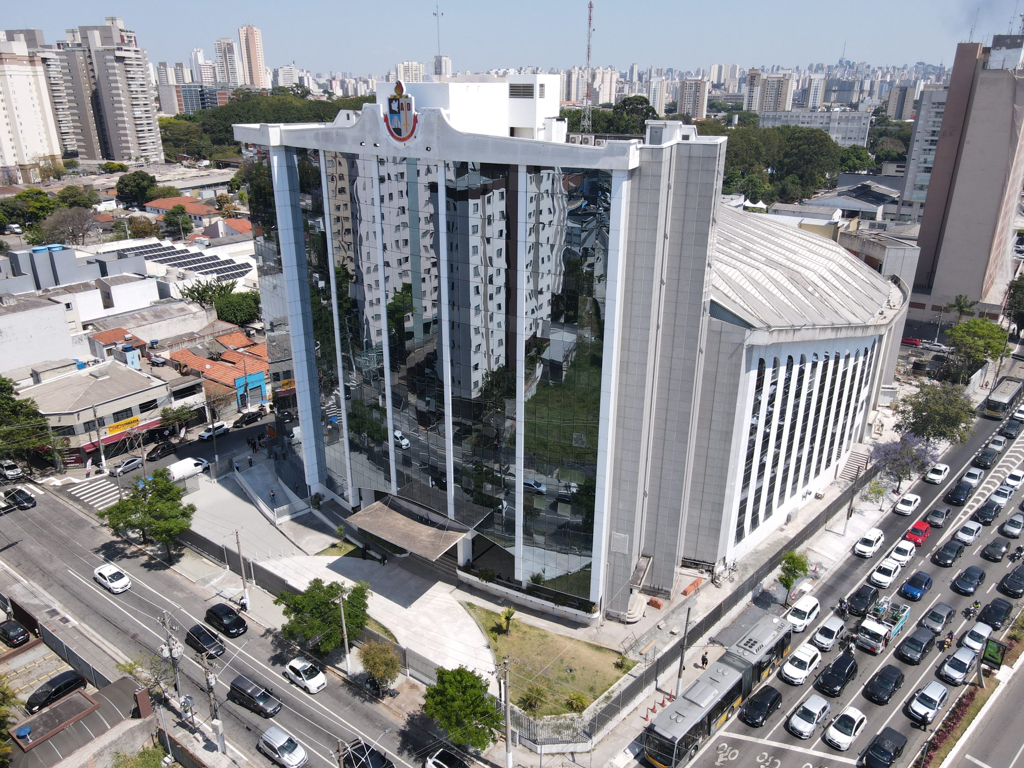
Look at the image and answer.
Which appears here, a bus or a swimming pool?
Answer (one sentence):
The image shows a bus.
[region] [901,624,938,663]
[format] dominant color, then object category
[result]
gray car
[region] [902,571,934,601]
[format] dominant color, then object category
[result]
blue car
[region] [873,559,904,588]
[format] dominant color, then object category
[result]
white car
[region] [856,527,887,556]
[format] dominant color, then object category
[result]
white car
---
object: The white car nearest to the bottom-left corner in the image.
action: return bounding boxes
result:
[90,565,129,595]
